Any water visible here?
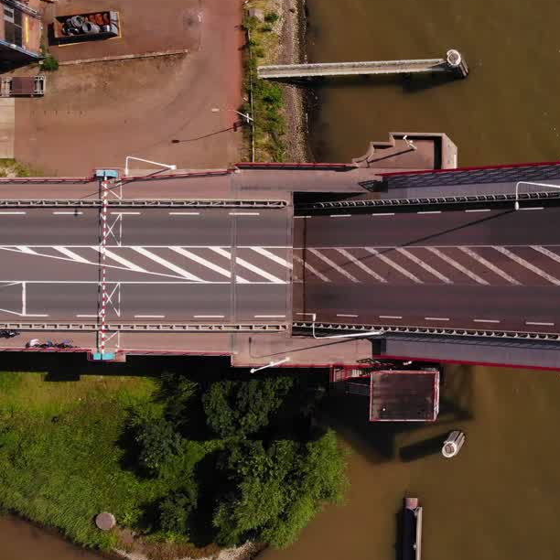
Yes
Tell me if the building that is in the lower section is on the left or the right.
right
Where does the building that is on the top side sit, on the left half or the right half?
left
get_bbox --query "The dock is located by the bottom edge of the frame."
[405,491,424,560]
